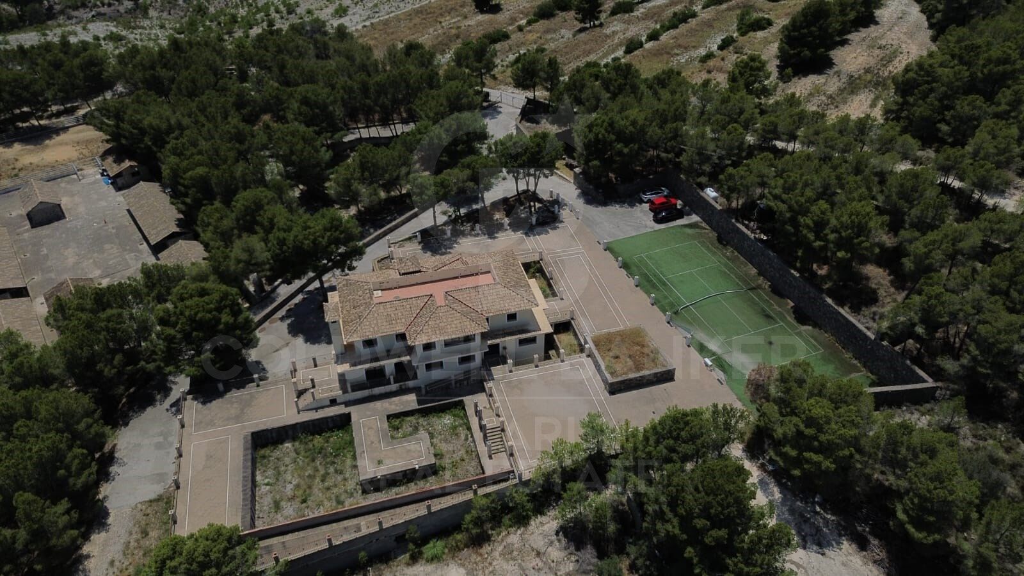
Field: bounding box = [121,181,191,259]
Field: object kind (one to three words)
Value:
shed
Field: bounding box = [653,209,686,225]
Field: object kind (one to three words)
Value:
car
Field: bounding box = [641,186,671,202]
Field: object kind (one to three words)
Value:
car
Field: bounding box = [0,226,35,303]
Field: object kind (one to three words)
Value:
shed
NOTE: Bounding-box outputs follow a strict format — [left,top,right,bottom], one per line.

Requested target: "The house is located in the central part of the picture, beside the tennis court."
[297,249,554,421]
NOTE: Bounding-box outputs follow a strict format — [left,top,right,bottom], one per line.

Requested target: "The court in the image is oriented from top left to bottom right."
[607,215,868,417]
